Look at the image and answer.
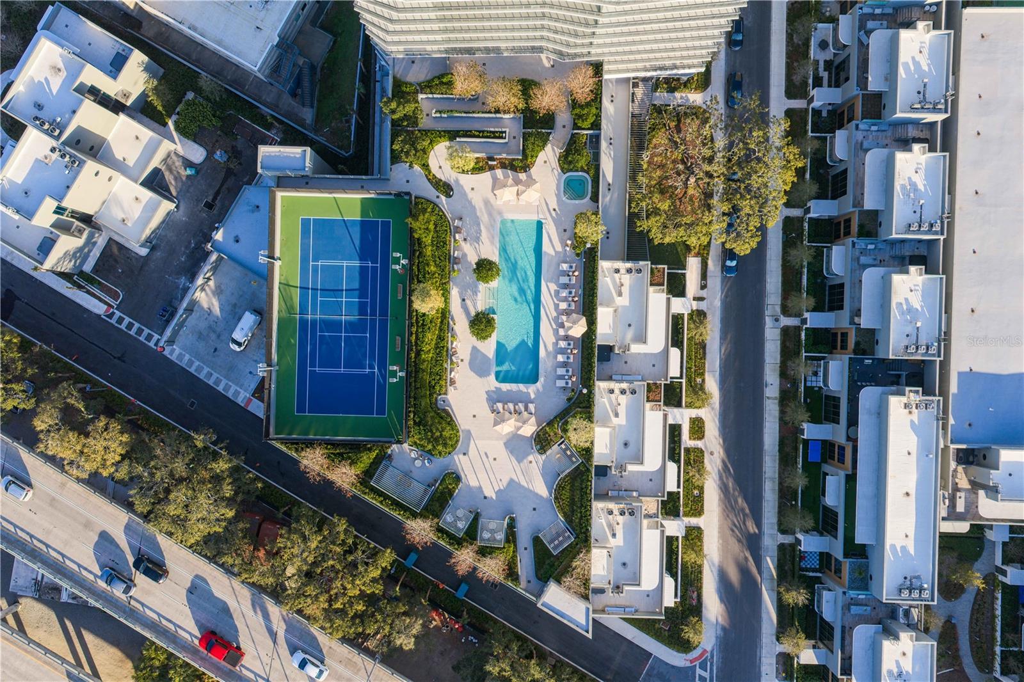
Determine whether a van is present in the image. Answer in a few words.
Yes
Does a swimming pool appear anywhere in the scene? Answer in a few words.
Yes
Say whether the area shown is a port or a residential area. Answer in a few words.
residential area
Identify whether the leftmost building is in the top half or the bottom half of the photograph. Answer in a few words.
top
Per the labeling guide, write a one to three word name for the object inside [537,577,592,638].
building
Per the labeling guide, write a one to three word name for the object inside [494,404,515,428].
umbrella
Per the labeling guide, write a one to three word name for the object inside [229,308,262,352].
van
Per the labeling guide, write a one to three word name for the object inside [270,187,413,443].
tennis court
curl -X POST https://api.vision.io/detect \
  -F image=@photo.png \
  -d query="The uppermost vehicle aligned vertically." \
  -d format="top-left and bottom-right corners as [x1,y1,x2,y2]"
[727,14,746,52]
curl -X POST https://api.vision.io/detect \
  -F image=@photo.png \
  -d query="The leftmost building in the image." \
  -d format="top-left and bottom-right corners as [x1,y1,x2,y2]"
[0,3,181,270]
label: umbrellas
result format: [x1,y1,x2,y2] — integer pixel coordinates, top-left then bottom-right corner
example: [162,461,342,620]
[515,408,538,430]
[494,175,516,199]
[494,404,515,428]
[563,312,584,336]
[518,177,541,199]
